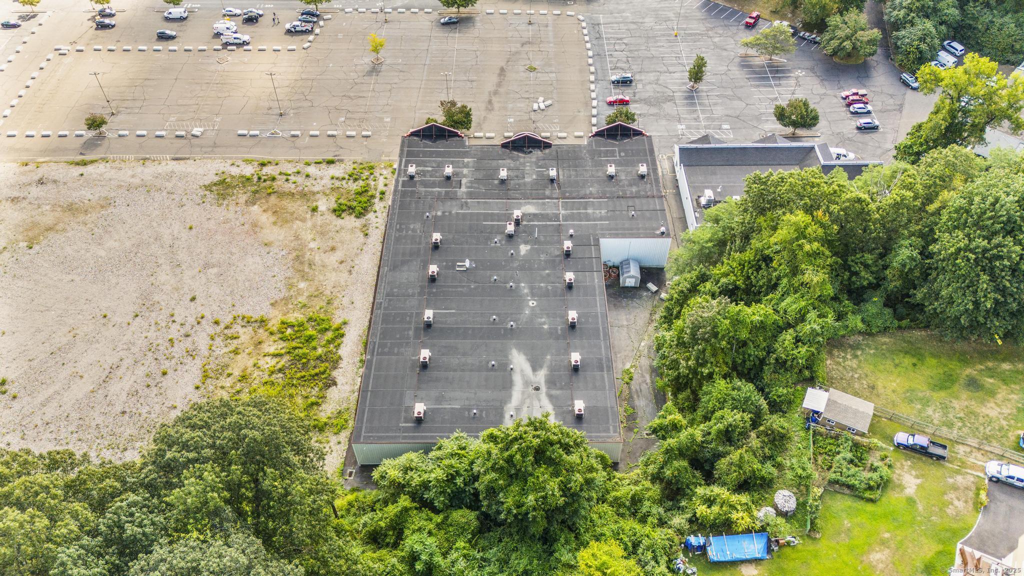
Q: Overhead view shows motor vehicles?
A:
Yes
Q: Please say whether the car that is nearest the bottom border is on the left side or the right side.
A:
right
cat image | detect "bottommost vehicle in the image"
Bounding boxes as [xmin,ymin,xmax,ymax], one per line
[983,460,1024,487]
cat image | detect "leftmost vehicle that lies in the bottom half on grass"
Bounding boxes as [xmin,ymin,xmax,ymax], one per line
[895,433,948,460]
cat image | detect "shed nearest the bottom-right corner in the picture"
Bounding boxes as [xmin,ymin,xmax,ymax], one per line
[821,389,874,439]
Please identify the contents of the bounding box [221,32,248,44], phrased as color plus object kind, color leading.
white vehicle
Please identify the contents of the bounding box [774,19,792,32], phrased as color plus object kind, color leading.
white vehicle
